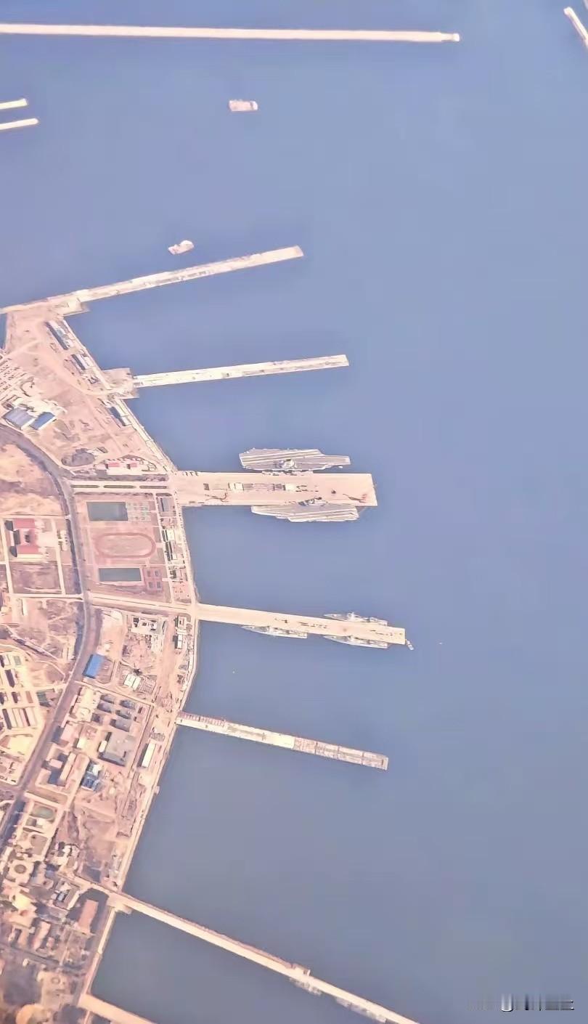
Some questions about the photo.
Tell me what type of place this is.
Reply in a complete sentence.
This looks like a port.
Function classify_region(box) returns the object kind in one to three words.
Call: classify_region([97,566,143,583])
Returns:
sports field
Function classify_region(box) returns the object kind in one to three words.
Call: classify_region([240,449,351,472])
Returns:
ship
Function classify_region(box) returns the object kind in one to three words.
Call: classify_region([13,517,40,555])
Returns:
building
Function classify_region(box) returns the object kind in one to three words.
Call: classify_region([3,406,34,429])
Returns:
hangar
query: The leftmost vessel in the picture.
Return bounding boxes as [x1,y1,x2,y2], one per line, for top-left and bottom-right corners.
[167,238,195,255]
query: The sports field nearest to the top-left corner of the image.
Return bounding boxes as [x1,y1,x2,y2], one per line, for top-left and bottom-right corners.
[85,501,129,522]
